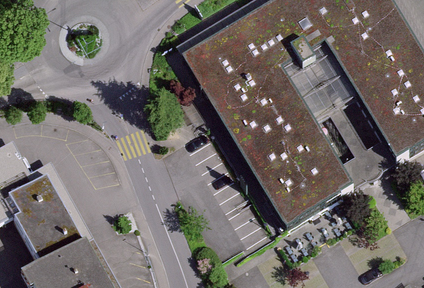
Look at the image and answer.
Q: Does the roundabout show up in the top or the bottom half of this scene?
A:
top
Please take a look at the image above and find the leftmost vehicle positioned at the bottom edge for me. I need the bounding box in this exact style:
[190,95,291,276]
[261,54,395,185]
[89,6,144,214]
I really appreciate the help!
[359,268,382,283]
